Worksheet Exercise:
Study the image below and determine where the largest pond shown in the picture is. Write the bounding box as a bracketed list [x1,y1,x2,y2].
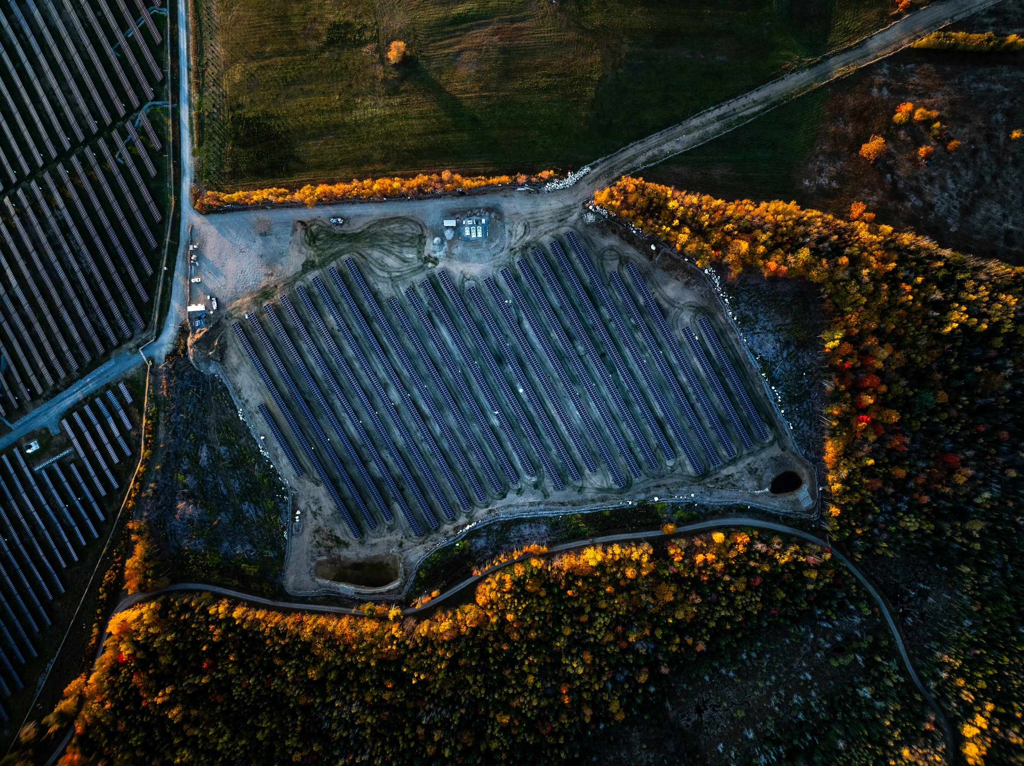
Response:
[313,555,401,588]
